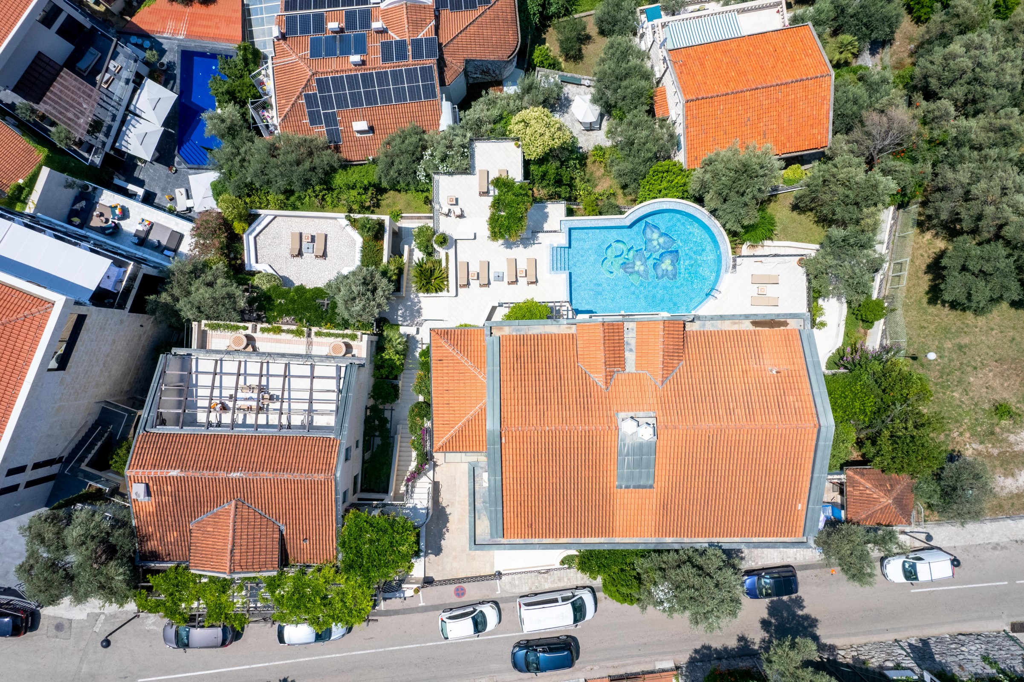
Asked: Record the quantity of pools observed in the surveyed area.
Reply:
2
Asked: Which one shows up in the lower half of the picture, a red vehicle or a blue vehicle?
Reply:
blue vehicle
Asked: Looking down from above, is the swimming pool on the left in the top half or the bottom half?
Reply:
top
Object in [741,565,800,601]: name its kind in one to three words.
car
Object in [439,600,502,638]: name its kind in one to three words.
car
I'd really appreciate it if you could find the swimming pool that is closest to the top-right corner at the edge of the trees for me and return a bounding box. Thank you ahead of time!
[549,198,731,317]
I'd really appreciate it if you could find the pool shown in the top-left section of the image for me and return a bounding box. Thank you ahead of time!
[174,45,243,169]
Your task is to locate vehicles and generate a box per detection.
[880,545,960,586]
[168,619,236,651]
[517,588,594,633]
[509,633,577,675]
[0,606,36,638]
[279,616,348,650]
[741,565,800,601]
[439,600,502,638]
